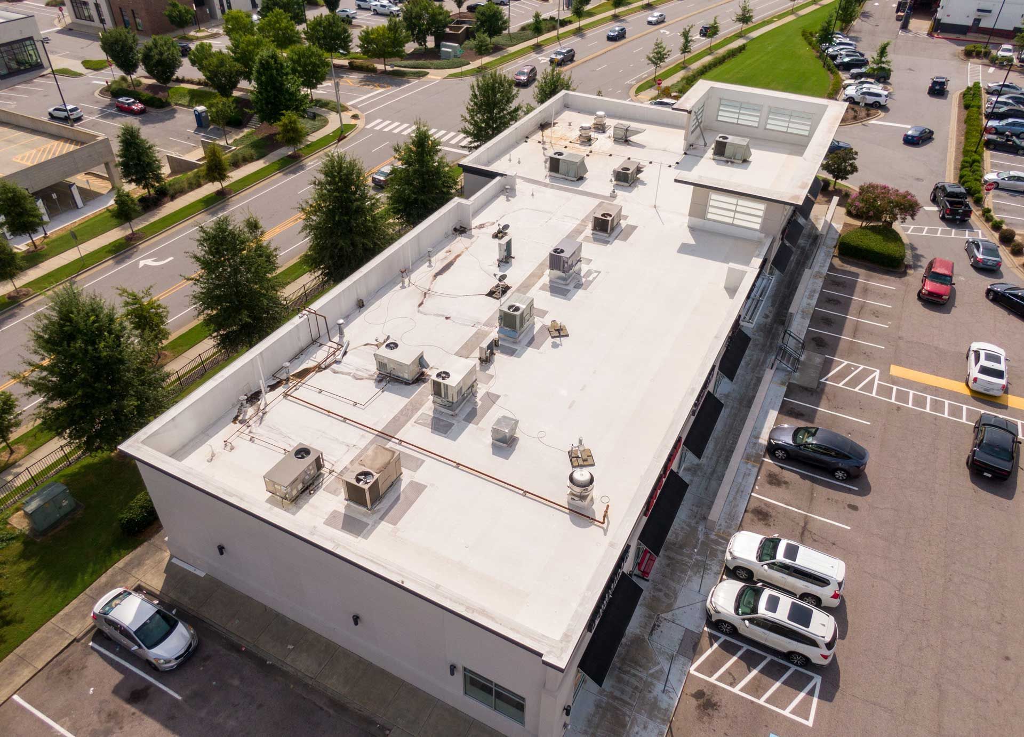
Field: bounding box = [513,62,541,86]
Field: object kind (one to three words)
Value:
car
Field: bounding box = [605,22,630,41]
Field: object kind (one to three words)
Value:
car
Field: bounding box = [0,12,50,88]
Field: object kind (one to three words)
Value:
building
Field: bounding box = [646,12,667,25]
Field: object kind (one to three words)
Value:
vehicle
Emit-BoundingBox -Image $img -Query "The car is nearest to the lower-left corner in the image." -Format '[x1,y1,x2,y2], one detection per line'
[83,582,200,673]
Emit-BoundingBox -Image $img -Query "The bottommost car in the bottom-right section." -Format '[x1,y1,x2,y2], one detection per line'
[705,586,840,673]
